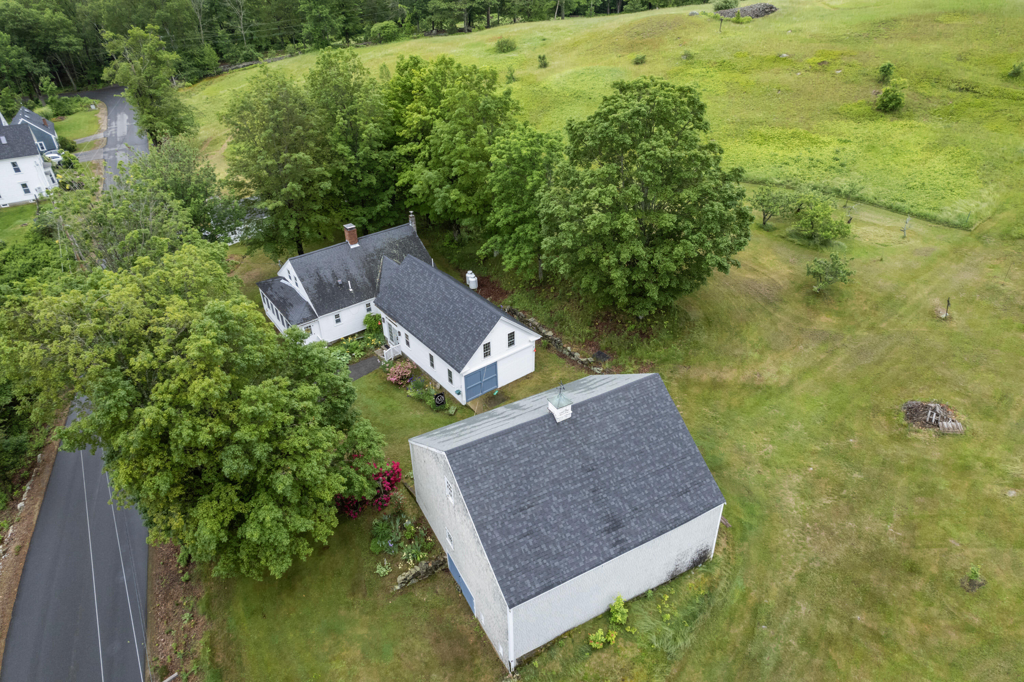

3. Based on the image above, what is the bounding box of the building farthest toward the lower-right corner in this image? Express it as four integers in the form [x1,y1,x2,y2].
[407,373,726,670]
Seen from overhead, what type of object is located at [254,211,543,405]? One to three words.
house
